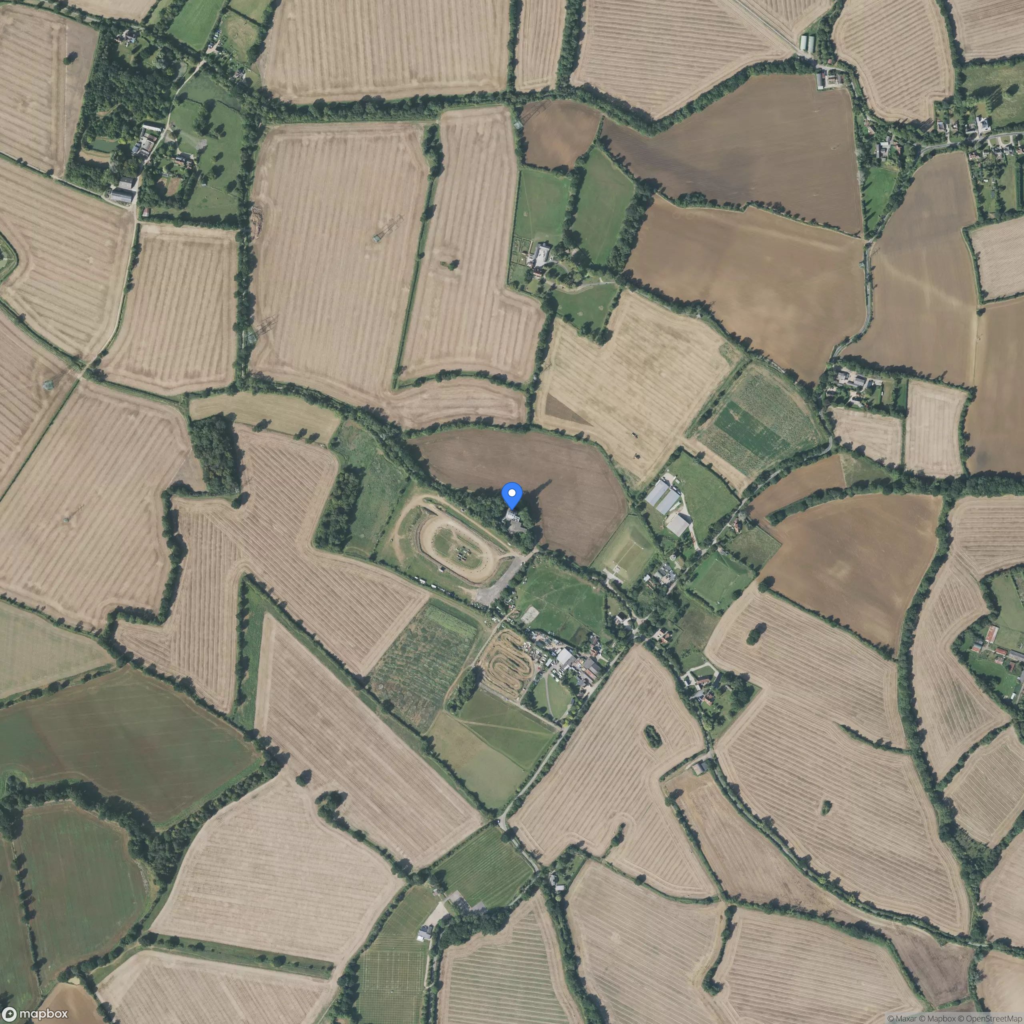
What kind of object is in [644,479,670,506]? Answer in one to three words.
barn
